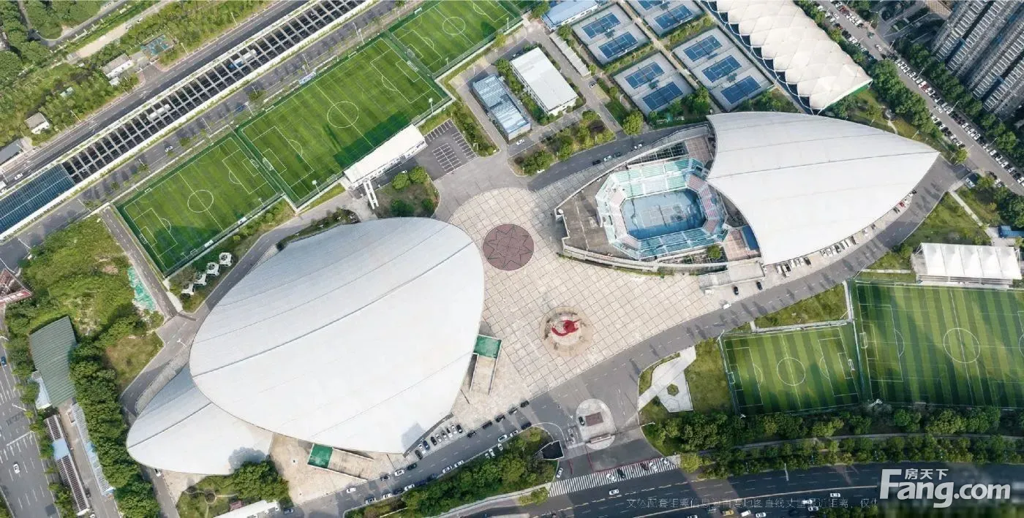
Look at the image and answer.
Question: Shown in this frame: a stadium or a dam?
stadium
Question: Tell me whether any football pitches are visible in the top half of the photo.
Yes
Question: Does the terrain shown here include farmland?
No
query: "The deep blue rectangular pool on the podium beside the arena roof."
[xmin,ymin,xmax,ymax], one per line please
[742,226,760,251]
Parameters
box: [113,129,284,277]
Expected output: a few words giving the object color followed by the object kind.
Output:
green soccer field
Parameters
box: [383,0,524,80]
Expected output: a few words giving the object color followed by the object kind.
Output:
green soccer field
